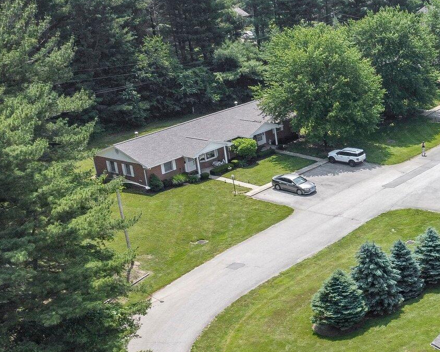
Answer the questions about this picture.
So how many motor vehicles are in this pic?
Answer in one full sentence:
The picture shows 2 motor vehicles.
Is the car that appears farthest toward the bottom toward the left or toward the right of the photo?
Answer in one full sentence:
The car that appears farthest toward the bottom sits on the right side.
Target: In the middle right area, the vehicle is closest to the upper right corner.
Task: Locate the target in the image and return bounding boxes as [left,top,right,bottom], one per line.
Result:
[326,145,368,168]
